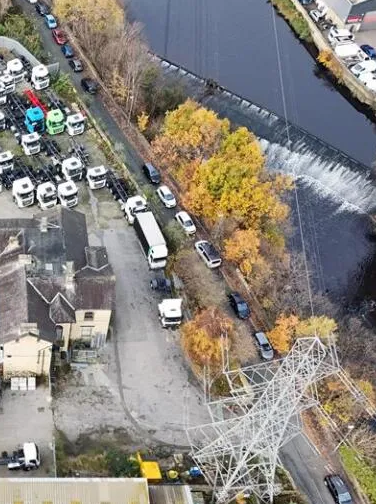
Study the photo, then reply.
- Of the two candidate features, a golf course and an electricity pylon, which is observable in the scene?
electricity pylon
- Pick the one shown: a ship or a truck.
truck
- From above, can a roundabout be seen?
No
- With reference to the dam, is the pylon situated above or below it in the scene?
below it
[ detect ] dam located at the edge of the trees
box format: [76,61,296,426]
[149,52,376,219]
